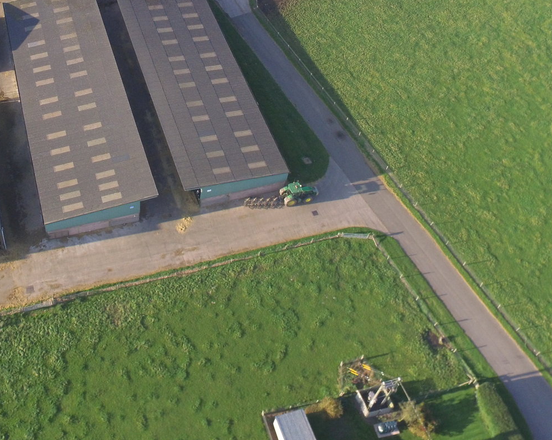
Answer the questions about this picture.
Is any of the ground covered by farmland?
Yes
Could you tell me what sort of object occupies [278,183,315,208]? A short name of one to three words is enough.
work vehicle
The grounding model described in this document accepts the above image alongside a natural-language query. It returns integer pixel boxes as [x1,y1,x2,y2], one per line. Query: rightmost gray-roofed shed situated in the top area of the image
[113,0,290,209]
